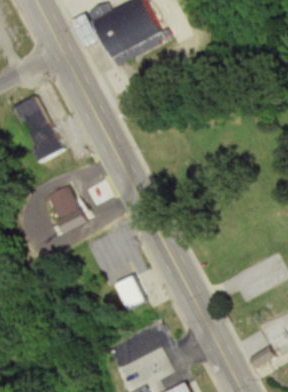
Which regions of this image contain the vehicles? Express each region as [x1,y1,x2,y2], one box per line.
[96,187,102,198]
[126,372,140,381]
